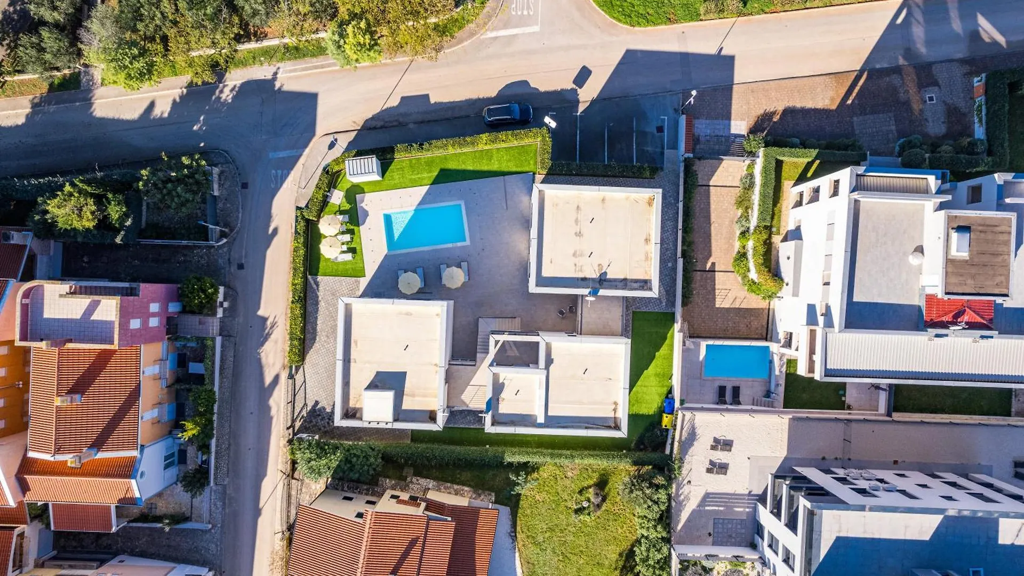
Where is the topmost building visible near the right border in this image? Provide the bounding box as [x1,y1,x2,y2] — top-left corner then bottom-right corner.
[777,167,1024,388]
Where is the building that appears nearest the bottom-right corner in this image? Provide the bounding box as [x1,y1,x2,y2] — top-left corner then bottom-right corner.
[750,466,1024,576]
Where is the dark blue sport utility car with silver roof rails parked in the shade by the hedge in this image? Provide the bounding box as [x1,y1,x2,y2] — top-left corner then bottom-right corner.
[483,101,534,127]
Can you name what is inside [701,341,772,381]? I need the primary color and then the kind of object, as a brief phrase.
blue swimming pool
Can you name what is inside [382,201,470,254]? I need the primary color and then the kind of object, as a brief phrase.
blue swimming pool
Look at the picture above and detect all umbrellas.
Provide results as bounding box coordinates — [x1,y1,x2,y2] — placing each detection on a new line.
[321,236,345,259]
[398,271,421,295]
[320,213,343,237]
[442,265,465,289]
